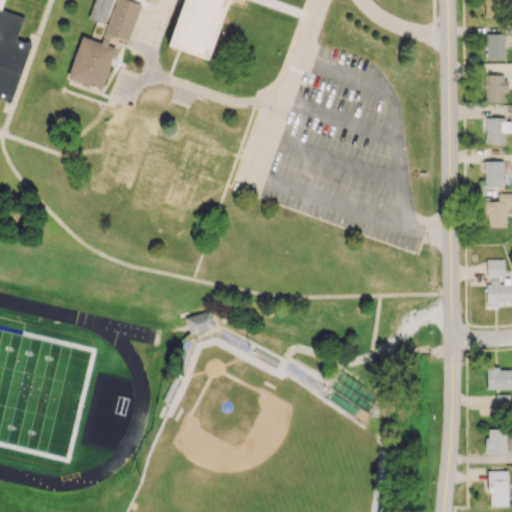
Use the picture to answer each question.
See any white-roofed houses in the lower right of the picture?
Yes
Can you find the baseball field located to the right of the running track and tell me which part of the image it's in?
bottom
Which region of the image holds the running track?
bottom left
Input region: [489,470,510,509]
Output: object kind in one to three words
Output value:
house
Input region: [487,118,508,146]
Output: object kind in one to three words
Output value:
house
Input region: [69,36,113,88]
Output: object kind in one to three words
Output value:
building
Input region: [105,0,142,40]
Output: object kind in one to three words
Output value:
building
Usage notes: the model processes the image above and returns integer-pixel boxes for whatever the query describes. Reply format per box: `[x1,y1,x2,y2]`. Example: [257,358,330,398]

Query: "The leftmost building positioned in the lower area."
[187,312,215,336]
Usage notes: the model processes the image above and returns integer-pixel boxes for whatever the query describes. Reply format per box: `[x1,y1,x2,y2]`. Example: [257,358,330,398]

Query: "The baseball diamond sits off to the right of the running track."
[138,349,376,512]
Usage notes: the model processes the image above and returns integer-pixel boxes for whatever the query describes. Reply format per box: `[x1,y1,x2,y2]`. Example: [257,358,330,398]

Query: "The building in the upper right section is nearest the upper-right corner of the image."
[488,34,506,62]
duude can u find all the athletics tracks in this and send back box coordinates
[0,293,158,491]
